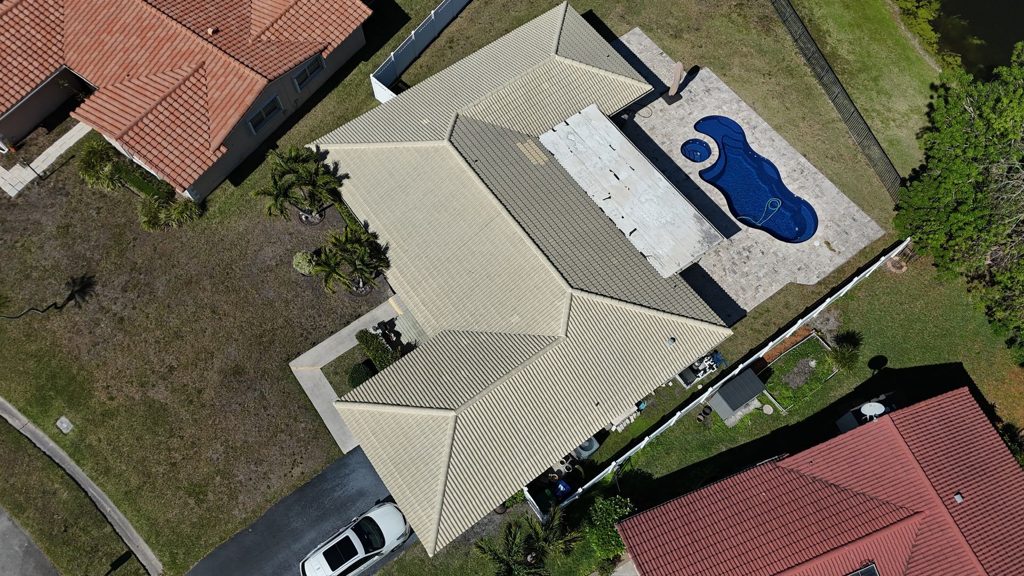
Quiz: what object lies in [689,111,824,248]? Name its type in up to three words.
swimming pool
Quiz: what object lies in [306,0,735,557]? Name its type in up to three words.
house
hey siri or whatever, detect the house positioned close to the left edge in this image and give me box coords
[0,0,374,205]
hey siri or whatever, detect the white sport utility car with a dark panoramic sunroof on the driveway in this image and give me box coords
[302,502,413,576]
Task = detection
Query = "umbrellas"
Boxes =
[661,62,684,107]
